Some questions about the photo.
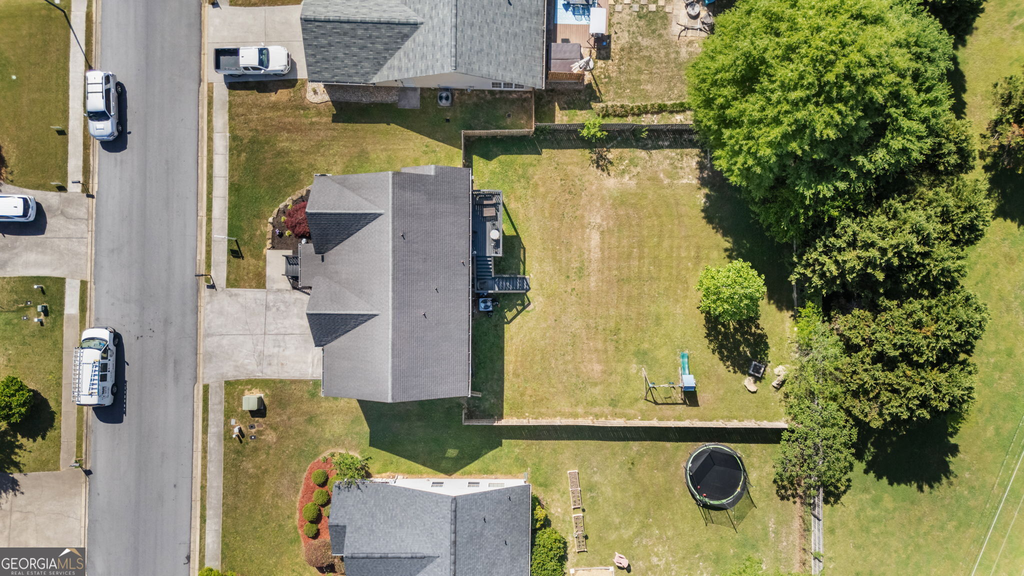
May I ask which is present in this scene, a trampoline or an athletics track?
trampoline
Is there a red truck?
No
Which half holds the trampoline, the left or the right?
right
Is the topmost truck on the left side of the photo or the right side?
left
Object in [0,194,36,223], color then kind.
white car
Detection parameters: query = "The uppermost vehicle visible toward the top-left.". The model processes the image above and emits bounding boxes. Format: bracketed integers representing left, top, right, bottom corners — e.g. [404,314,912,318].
[214,41,293,77]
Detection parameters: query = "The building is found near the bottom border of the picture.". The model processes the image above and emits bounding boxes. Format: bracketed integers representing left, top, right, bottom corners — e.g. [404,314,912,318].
[328,469,533,576]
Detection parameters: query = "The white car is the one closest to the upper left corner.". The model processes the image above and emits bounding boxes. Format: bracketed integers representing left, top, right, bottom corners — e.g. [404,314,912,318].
[82,71,123,144]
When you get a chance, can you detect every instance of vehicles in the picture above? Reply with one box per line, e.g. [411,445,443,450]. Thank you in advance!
[74,324,120,406]
[214,41,293,77]
[82,71,123,144]
[0,194,36,223]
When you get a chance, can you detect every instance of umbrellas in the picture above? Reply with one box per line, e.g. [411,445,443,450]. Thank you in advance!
[571,48,595,73]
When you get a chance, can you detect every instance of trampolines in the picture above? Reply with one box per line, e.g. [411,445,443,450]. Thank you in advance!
[680,440,755,514]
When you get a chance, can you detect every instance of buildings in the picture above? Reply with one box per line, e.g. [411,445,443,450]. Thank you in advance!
[328,469,533,576]
[300,0,549,96]
[282,164,474,404]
